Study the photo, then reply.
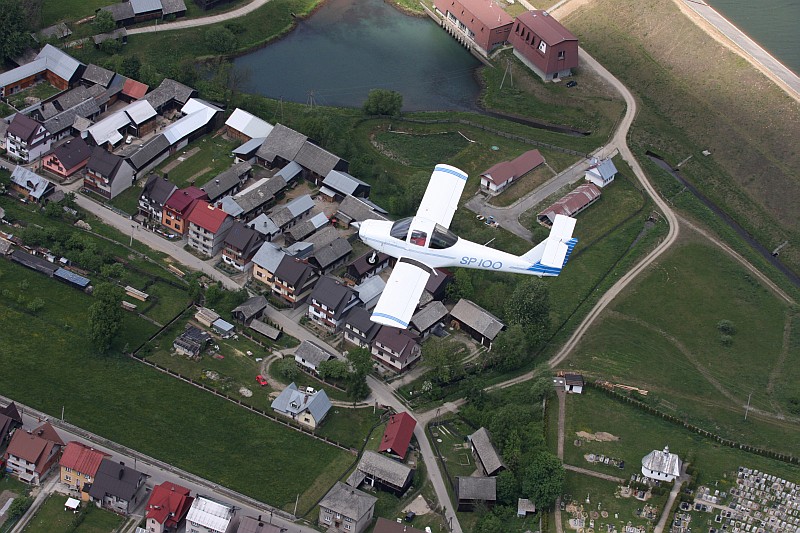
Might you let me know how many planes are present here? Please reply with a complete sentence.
My tally gives 1 plane in this photo.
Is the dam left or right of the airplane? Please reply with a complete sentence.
You can see the dam positioned to the right of the airplane.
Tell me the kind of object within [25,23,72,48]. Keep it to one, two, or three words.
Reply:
shed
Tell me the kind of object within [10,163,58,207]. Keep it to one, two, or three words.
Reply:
house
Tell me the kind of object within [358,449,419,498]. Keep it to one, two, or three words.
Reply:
barn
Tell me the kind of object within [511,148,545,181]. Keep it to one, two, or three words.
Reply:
building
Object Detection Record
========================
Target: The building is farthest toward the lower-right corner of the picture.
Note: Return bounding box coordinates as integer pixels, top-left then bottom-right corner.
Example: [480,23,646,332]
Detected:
[640,441,684,485]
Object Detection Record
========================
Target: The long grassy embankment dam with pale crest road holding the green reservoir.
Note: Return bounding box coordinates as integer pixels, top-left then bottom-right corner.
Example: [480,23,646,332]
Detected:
[587,0,800,248]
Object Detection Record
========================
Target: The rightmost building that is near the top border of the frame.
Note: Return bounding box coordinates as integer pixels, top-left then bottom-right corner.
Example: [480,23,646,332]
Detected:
[511,10,577,80]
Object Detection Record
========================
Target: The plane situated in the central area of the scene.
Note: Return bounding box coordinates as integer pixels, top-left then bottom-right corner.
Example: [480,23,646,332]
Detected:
[351,168,580,328]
